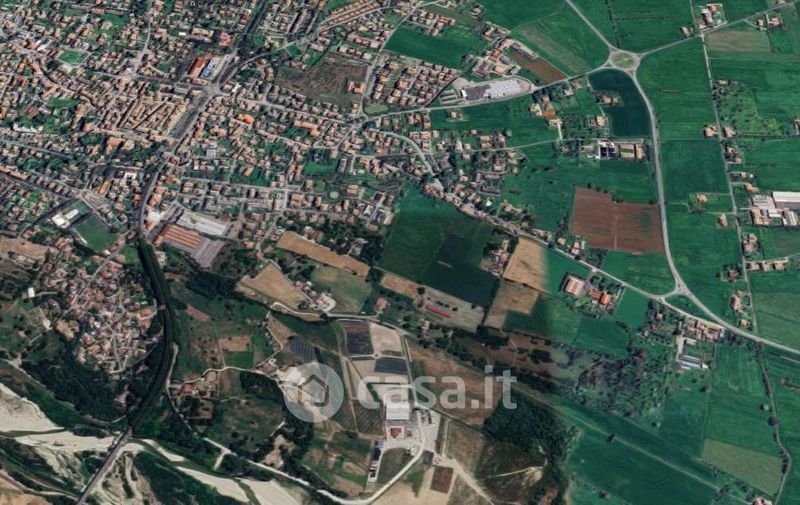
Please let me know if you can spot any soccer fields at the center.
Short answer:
No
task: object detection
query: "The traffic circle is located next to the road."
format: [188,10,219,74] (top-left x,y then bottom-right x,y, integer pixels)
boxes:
[592,41,652,86]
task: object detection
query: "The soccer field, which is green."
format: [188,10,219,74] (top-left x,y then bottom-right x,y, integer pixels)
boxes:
[75,213,119,251]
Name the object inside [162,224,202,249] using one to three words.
building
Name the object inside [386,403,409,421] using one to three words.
building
